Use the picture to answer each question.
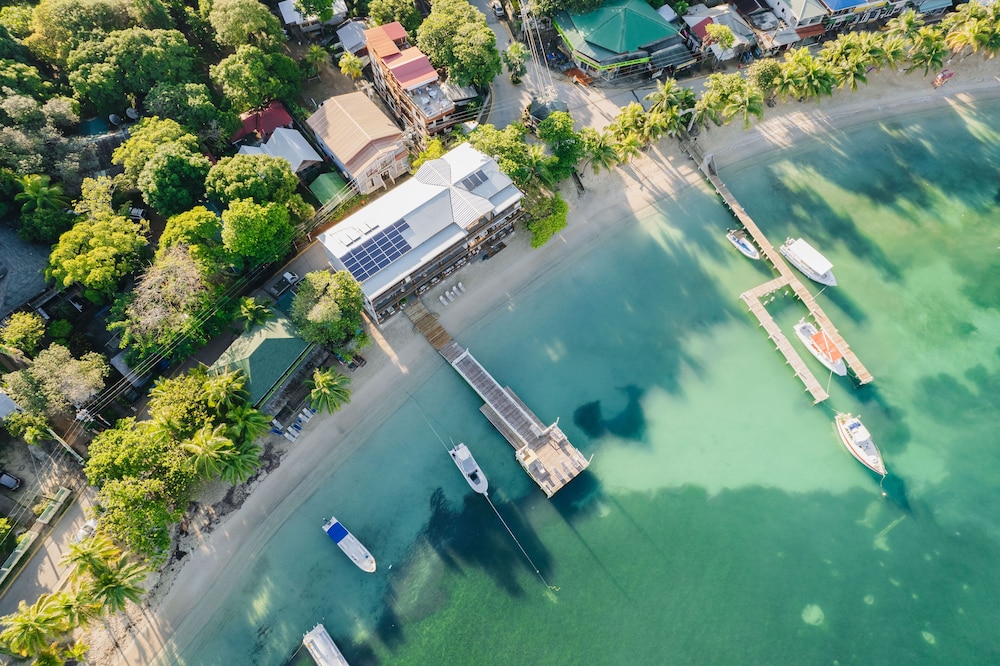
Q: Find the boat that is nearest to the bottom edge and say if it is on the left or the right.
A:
left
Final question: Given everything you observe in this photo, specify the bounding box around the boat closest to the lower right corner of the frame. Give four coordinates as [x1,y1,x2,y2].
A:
[829,412,895,482]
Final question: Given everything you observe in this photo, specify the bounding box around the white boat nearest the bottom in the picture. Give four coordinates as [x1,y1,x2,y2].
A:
[299,625,356,666]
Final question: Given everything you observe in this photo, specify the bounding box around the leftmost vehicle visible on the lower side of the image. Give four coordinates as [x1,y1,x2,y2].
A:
[0,466,24,498]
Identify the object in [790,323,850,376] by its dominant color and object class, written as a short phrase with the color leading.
white boat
